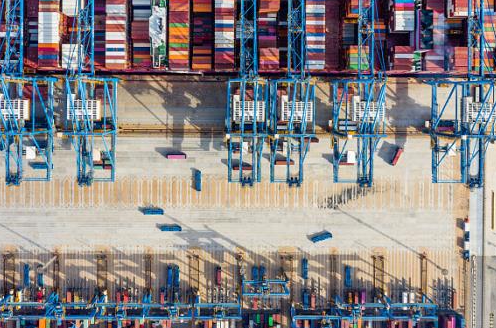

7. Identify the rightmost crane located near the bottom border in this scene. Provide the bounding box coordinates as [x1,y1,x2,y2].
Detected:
[379,288,435,319]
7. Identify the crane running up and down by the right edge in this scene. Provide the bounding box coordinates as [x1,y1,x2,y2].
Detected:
[419,0,496,189]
